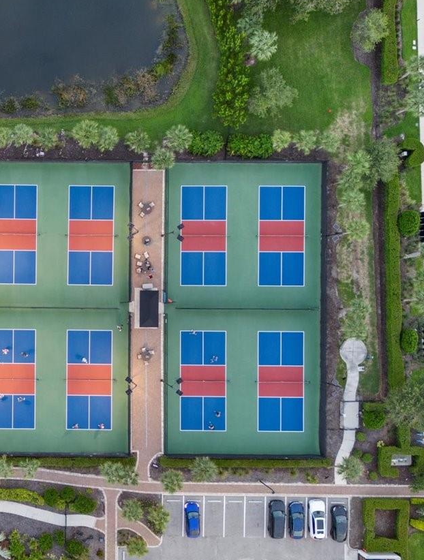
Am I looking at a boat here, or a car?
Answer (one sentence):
The one in the frame is a car.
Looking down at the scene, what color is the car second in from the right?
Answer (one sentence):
From above, the car second in from the right appears white.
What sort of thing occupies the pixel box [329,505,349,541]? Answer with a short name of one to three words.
car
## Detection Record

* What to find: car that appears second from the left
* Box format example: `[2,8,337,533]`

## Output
[267,499,287,538]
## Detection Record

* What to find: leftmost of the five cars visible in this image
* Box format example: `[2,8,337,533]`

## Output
[183,501,200,537]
